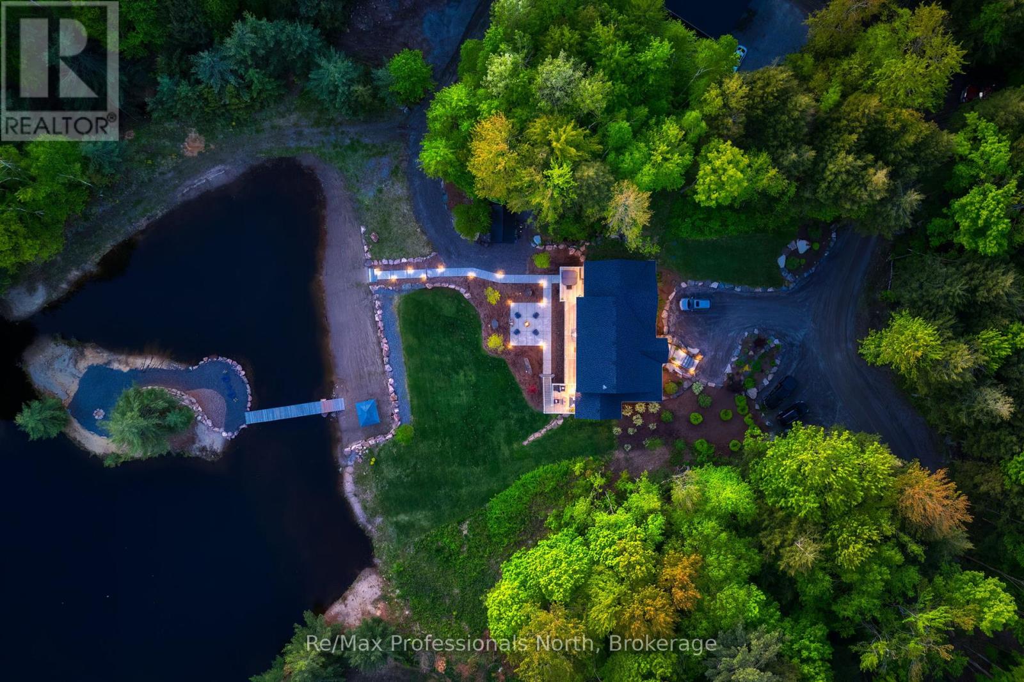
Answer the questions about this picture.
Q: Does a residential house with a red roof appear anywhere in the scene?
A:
No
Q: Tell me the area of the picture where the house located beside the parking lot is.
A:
center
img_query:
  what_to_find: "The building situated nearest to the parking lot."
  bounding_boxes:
[540,259,669,420]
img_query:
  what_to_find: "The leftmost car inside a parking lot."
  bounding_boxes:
[679,297,711,312]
